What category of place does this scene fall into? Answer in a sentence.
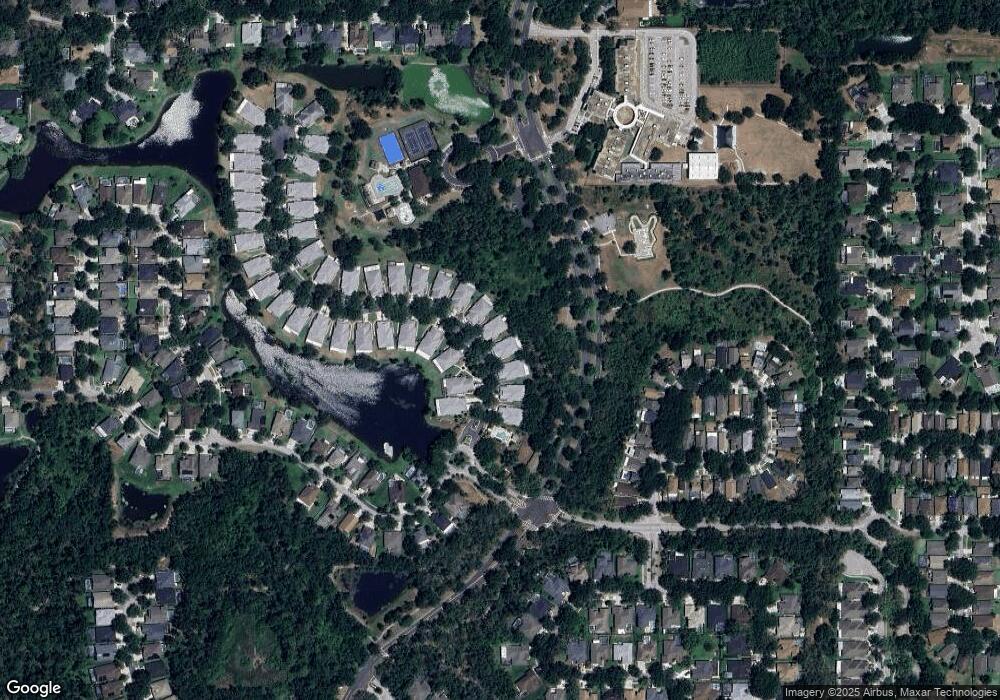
The picture captures a residential area.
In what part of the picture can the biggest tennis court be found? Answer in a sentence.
You can find the biggest tennis court in the top area of the picture.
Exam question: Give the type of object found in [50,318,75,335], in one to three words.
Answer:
house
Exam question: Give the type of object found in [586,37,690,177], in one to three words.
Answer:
building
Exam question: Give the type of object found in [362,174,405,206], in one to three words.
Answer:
swimming pool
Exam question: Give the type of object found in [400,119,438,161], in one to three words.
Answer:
tennis court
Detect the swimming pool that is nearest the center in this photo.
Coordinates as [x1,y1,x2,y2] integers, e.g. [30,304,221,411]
[490,426,512,443]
